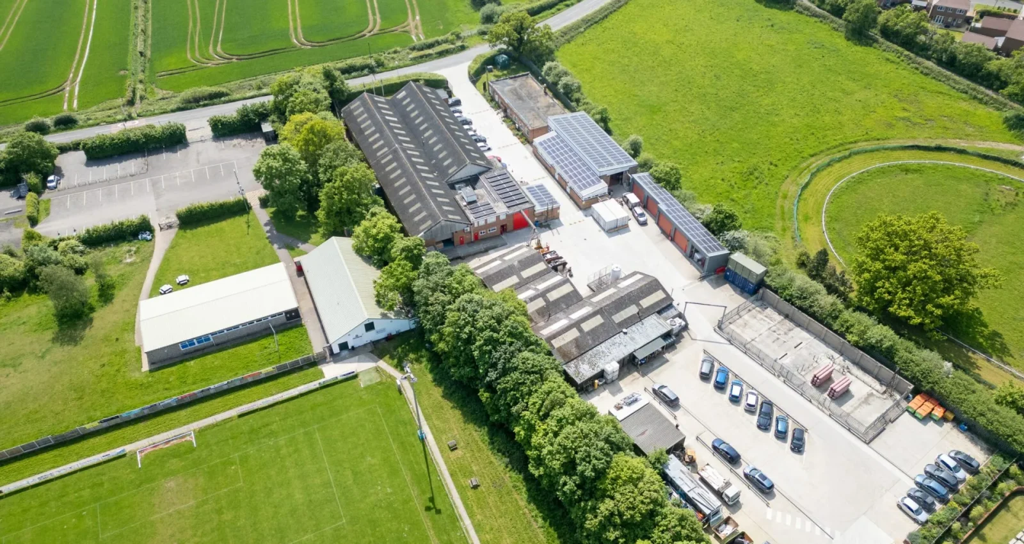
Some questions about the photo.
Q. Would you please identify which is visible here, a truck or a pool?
truck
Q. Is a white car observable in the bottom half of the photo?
Yes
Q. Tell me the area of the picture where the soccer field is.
bottom left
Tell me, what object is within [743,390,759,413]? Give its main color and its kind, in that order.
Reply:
white car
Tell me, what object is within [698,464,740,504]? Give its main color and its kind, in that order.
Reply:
white truck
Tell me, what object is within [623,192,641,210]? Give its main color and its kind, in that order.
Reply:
white vehicle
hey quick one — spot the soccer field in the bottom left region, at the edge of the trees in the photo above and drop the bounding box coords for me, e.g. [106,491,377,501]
[0,374,468,544]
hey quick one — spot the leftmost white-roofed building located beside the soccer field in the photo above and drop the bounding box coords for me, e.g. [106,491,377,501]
[140,262,300,371]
